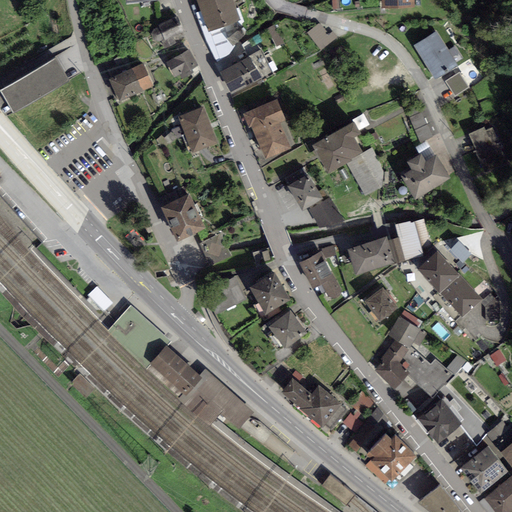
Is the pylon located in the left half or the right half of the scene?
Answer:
left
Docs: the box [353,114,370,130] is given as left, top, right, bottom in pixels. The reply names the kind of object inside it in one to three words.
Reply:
gazebo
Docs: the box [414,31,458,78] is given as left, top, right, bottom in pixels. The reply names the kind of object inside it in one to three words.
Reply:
house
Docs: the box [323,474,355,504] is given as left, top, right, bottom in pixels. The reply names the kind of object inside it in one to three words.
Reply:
building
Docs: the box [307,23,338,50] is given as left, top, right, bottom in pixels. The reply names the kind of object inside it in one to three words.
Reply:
shed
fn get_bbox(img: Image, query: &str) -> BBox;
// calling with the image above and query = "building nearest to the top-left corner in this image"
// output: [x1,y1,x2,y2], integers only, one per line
[1,58,68,111]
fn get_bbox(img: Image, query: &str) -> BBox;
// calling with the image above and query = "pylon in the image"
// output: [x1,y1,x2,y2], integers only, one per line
[140,455,160,475]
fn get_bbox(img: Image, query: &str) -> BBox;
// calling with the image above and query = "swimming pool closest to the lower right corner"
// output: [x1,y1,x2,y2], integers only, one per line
[432,322,452,341]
